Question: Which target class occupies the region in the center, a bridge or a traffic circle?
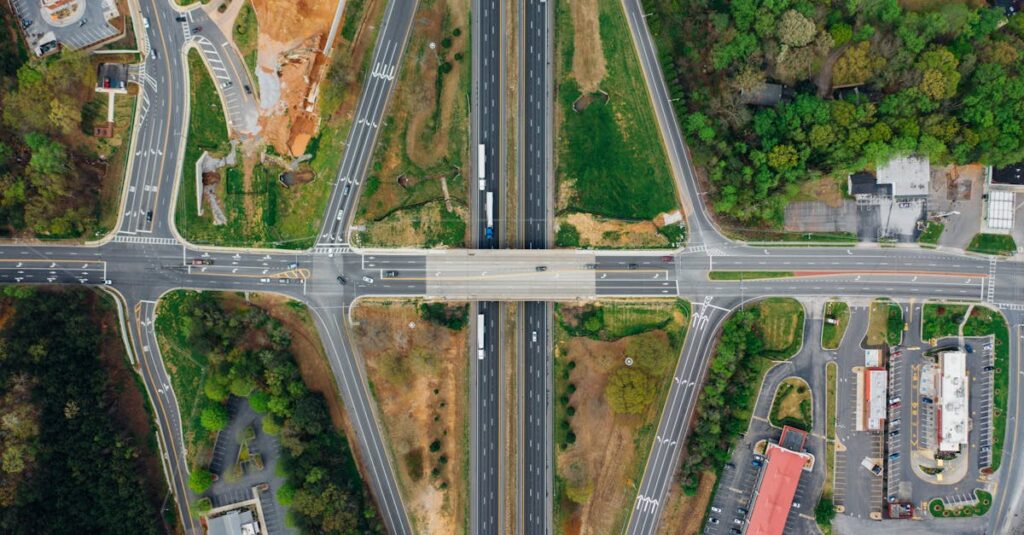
bridge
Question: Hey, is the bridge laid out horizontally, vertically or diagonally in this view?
horizontally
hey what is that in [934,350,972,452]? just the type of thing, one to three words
building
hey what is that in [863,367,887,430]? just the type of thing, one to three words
building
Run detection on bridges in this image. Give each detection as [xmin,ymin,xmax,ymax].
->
[424,249,597,301]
